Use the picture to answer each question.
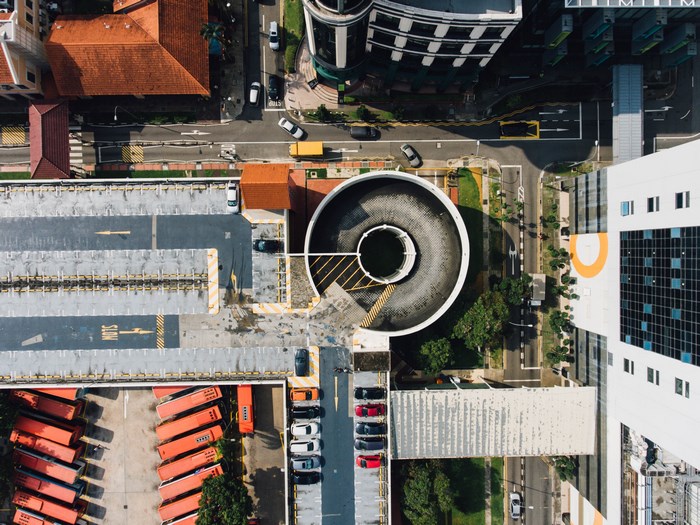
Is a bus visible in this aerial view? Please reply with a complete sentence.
Yes, there's a bus down there.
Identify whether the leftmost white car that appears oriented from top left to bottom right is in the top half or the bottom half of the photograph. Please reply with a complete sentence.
You can find the leftmost white car that appears oriented from top left to bottom right in the top half.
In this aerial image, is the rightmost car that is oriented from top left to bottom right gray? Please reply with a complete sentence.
Yes, the rightmost car that is oriented from top left to bottom right appears gray.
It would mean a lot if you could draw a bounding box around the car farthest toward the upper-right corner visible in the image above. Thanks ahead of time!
[502,124,530,136]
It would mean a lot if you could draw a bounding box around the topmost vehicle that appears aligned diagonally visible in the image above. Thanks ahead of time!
[278,118,304,141]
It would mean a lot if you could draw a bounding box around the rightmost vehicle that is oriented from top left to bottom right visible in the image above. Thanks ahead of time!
[400,142,421,168]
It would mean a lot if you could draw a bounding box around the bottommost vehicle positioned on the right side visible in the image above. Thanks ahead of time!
[509,489,521,518]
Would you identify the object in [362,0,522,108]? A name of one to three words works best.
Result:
building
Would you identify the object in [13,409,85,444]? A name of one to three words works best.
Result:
bus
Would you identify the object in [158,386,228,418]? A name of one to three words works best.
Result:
bus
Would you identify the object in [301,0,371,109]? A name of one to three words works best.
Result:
building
